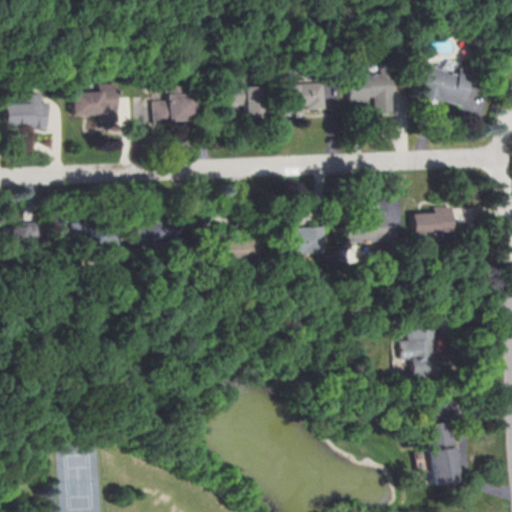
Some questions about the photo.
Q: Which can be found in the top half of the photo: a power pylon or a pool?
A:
pool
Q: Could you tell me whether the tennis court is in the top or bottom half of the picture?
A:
bottom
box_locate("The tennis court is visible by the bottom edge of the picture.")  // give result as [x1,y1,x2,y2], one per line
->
[56,444,102,512]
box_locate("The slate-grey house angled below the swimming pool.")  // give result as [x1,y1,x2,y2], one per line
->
[428,68,476,108]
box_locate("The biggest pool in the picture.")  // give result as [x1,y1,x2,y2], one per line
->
[428,36,459,64]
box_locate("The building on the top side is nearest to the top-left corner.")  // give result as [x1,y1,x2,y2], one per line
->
[8,92,48,130]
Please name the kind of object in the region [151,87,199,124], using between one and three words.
house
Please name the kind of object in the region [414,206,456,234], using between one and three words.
house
